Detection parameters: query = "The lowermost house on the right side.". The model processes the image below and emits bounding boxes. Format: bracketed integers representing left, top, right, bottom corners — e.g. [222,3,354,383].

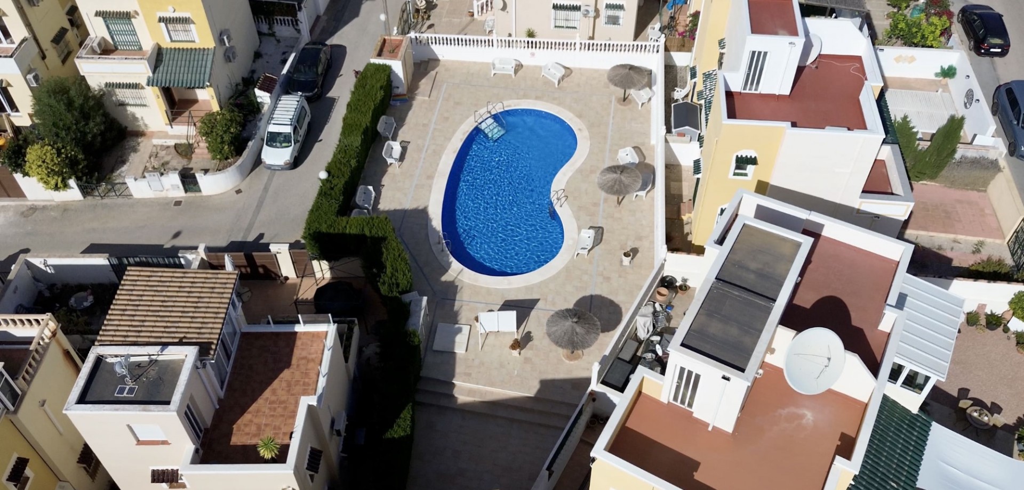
[586,187,970,490]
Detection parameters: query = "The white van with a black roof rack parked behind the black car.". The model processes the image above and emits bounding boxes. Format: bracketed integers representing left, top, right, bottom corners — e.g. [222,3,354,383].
[257,89,303,168]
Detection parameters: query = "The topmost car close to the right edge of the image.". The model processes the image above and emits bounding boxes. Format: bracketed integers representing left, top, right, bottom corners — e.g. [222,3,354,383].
[953,9,1015,59]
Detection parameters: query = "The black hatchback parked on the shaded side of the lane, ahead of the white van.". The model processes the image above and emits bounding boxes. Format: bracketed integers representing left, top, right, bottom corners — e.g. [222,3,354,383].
[282,39,326,95]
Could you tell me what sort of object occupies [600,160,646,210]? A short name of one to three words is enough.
umbrella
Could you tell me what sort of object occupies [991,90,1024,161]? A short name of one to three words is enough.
car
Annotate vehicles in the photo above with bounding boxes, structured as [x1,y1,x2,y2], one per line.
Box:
[953,9,1015,59]
[991,90,1024,161]
[257,89,303,168]
[282,39,326,95]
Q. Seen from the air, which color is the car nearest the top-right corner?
black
